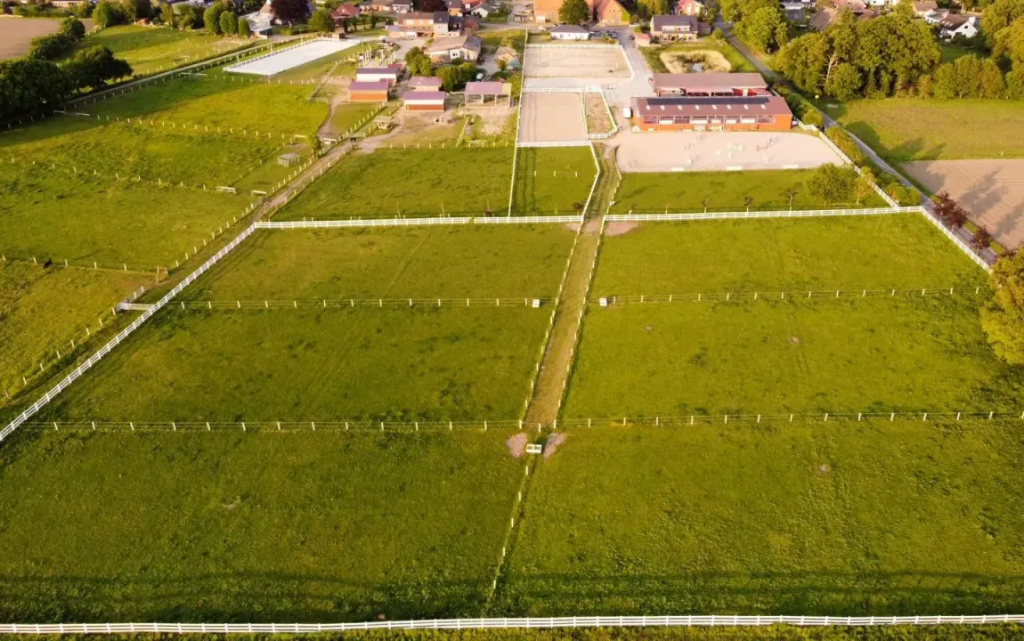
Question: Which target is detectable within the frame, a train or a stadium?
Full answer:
Looking from above, you can make out a stadium.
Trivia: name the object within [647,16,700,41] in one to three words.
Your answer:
house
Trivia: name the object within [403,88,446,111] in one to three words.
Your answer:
shed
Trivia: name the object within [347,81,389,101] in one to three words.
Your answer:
shed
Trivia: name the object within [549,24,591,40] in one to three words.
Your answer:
house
